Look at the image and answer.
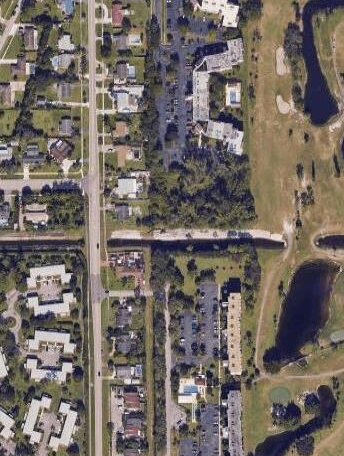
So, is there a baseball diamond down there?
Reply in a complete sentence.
No, there appears to be no baseball diamond in this shot.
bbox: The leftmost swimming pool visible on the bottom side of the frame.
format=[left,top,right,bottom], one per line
[178,378,205,403]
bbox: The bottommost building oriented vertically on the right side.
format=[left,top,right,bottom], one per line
[228,391,243,456]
